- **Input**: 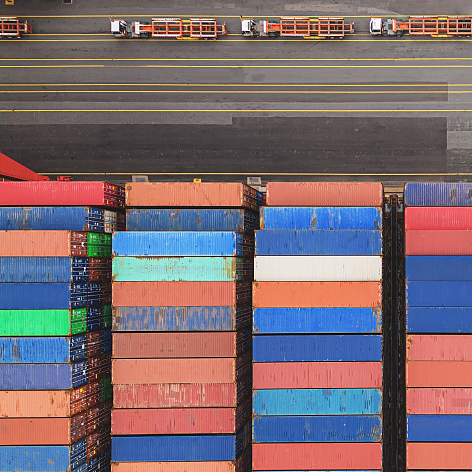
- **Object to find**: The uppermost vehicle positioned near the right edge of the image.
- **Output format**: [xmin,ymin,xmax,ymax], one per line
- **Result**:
[371,14,472,38]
